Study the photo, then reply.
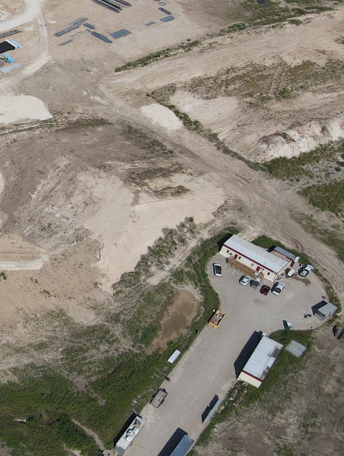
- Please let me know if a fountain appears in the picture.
No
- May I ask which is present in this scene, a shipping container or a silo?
shipping container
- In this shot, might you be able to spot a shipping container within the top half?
No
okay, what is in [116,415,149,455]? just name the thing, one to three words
shipping container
